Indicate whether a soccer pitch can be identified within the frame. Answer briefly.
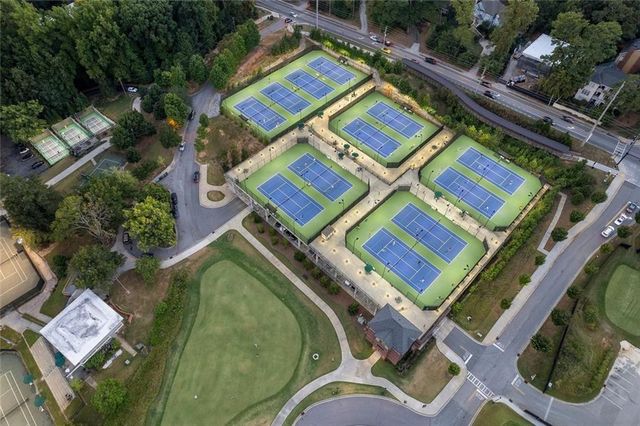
No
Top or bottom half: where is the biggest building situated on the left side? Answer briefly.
bottom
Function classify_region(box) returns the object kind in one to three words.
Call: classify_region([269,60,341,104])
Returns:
tennis court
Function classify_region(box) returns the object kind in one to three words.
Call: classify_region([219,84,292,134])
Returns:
tennis court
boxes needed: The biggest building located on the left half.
[41,292,131,371]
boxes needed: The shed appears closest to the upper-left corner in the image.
[70,136,103,159]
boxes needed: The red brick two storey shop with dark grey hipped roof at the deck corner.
[367,299,429,360]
